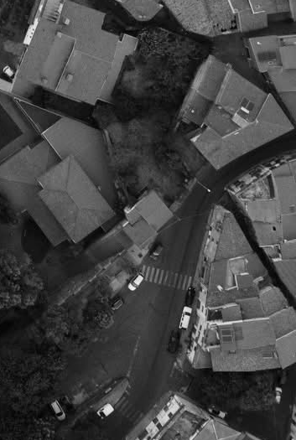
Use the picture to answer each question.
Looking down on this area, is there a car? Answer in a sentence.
Yes, the image includes a car.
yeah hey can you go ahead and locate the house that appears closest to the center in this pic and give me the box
[119,185,175,247]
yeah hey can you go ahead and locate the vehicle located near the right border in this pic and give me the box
[272,383,285,406]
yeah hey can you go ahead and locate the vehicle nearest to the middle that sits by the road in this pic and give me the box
[149,238,165,261]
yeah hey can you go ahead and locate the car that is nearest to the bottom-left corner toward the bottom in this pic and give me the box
[50,399,66,420]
